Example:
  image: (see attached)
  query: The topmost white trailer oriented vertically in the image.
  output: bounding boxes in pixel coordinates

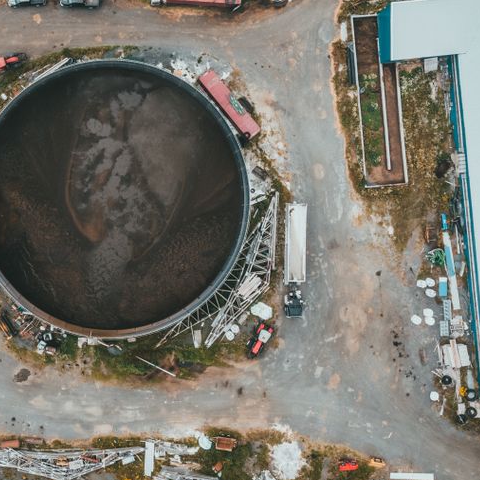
[281,201,307,287]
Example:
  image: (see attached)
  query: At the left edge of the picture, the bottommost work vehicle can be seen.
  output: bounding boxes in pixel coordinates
[0,51,30,74]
